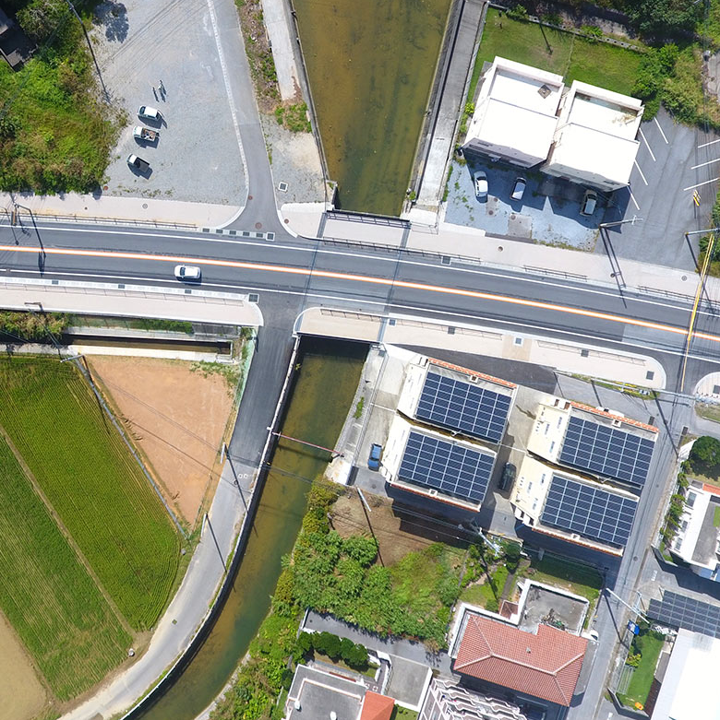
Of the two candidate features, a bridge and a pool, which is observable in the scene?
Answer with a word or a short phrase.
bridge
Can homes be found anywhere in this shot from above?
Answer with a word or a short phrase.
Yes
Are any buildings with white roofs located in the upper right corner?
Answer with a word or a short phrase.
Yes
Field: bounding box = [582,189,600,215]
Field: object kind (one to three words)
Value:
car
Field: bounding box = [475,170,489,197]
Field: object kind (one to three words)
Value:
car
